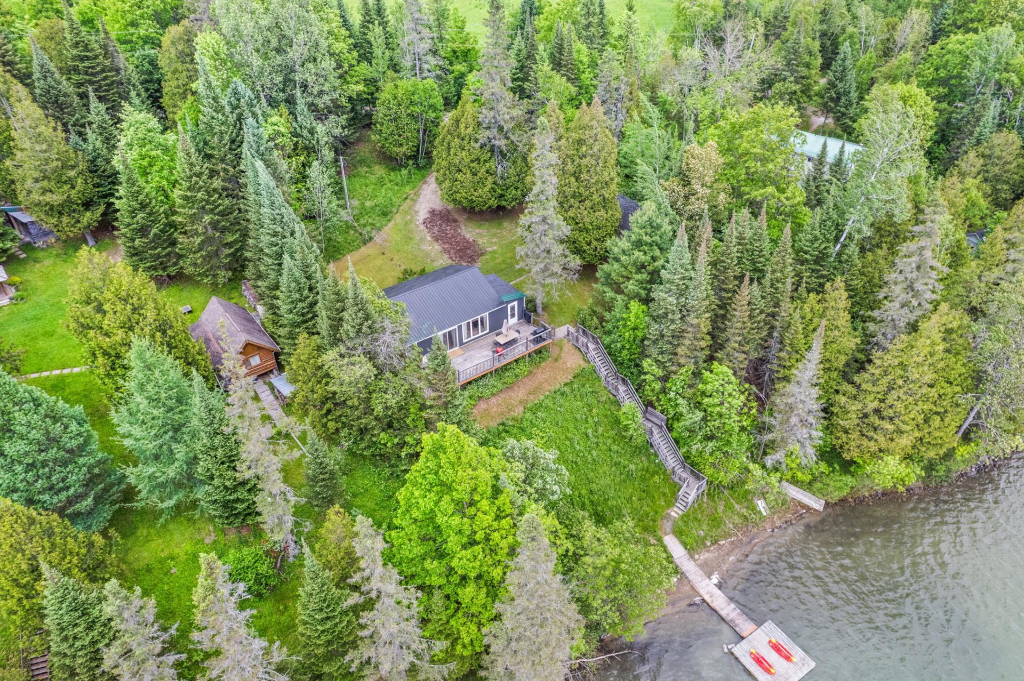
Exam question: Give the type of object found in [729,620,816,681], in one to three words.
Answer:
pier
